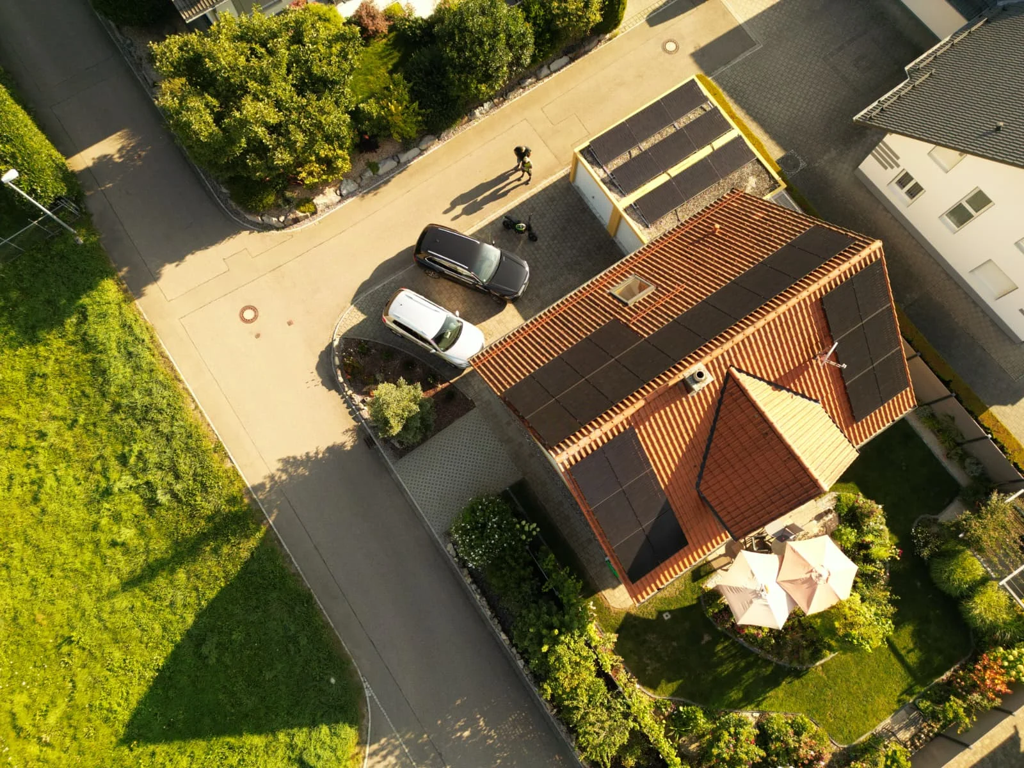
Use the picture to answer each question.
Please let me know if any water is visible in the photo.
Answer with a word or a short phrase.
No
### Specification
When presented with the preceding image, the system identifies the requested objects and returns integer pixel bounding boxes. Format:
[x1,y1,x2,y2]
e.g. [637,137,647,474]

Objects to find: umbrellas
[718,550,792,629]
[776,535,858,616]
